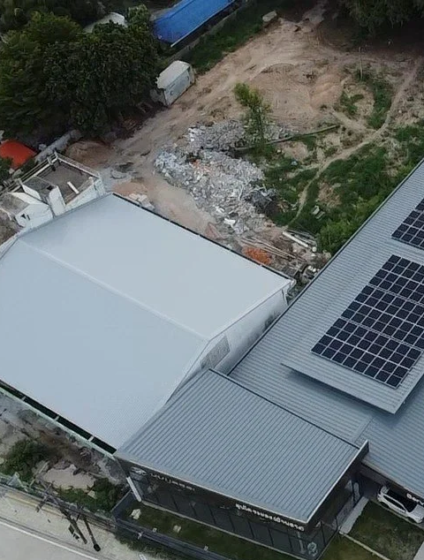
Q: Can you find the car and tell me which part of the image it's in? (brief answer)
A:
bottom right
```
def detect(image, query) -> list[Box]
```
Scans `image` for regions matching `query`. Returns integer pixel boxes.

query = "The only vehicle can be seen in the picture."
[379,488,424,526]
